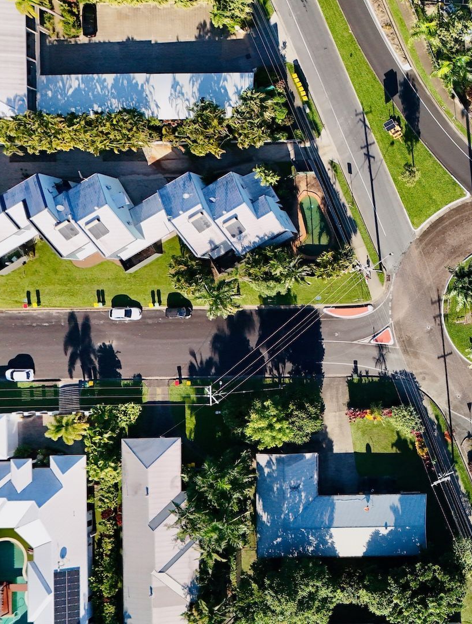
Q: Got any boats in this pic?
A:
No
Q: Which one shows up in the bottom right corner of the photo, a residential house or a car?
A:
residential house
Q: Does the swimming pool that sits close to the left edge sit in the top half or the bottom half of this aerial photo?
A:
bottom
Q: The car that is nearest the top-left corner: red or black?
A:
black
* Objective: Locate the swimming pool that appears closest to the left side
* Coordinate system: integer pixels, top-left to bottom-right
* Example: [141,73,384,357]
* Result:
[0,539,27,624]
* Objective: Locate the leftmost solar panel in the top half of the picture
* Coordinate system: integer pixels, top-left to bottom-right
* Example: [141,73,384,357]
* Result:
[59,222,79,240]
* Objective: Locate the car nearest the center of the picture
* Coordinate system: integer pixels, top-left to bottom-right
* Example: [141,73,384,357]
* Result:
[159,305,198,322]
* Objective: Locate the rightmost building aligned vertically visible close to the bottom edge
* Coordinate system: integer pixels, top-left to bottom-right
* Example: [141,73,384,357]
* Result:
[122,437,208,624]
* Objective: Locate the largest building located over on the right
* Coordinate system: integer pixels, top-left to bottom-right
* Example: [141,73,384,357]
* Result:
[257,450,430,559]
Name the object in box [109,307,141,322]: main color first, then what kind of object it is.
white car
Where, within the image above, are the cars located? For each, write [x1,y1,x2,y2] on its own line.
[159,305,198,322]
[4,369,37,384]
[78,3,99,39]
[109,307,141,322]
